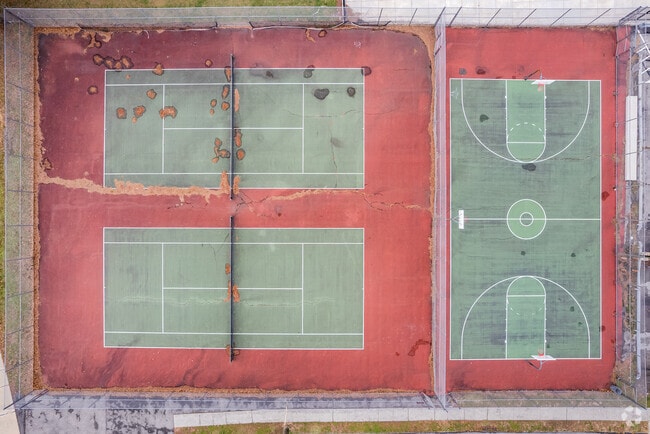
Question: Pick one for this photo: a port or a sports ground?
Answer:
sports ground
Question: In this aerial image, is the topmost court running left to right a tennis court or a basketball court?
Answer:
tennis court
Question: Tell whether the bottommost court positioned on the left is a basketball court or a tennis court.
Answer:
tennis court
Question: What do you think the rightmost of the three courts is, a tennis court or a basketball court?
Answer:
basketball court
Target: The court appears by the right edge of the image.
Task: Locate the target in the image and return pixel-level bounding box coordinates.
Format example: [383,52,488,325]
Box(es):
[435,27,632,391]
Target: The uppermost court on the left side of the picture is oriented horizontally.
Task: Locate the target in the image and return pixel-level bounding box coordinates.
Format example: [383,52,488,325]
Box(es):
[103,67,365,189]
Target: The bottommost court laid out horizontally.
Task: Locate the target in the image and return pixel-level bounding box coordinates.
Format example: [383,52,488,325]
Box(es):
[103,228,364,350]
